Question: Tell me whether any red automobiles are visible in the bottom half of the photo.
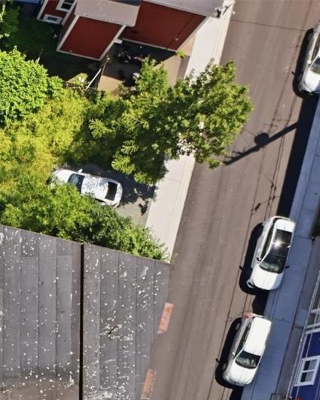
No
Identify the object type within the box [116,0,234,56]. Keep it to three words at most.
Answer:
house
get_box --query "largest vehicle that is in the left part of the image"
[48,164,125,212]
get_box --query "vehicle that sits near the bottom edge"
[220,309,275,391]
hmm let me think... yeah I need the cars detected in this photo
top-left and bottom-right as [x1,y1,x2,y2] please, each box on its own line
[244,214,300,294]
[48,164,125,212]
[220,309,275,391]
[292,16,320,101]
